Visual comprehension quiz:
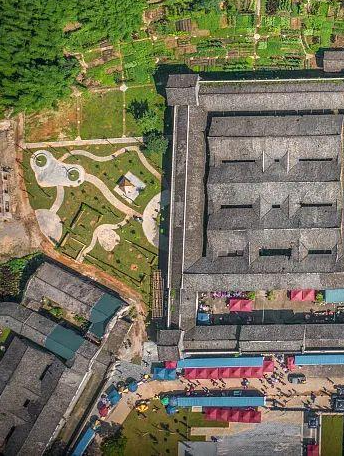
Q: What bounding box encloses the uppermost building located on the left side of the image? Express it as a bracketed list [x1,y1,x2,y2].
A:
[114,171,147,204]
